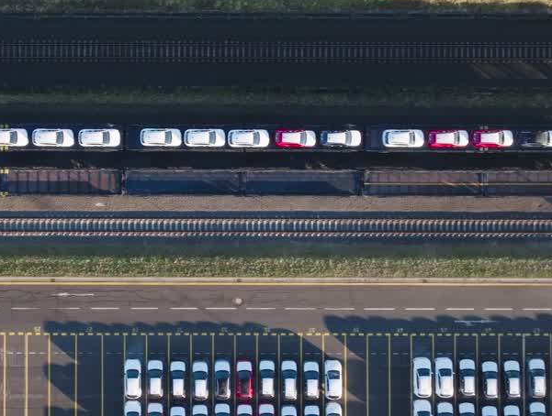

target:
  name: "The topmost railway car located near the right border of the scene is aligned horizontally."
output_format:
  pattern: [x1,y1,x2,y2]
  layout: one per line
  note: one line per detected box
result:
[364,125,552,154]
